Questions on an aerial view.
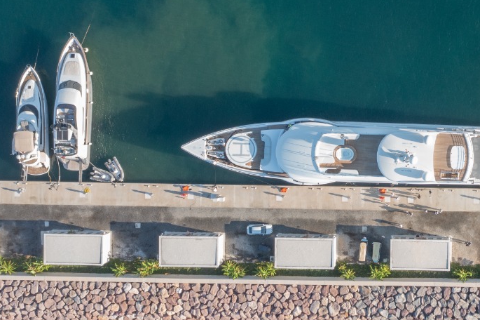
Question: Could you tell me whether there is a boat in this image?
Yes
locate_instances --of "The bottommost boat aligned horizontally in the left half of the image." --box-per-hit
[85,169,113,182]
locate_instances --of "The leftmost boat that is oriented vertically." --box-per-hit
[11,65,53,174]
